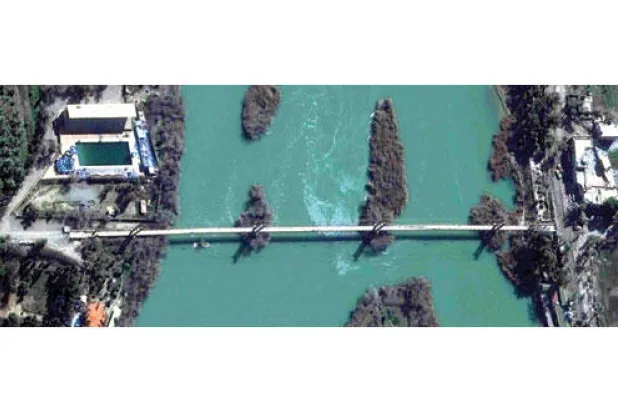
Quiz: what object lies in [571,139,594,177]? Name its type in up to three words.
building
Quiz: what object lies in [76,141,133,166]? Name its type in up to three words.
swimming pool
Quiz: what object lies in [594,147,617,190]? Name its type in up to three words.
building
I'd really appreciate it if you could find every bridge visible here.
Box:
[70,217,557,239]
